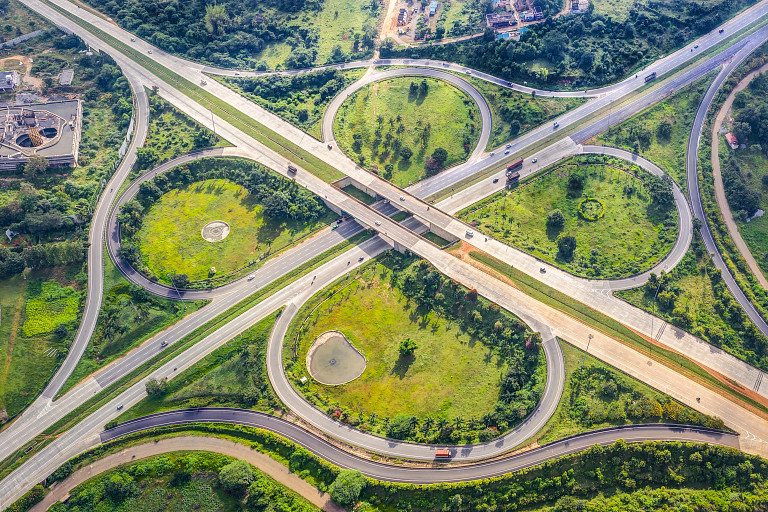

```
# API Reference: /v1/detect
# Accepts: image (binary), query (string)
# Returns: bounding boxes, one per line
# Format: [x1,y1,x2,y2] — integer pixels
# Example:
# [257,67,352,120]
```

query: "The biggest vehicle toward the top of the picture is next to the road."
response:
[506,156,526,170]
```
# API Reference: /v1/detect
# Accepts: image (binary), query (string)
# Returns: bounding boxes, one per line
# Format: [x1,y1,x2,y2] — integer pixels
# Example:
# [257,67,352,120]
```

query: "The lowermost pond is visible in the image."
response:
[305,330,362,382]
